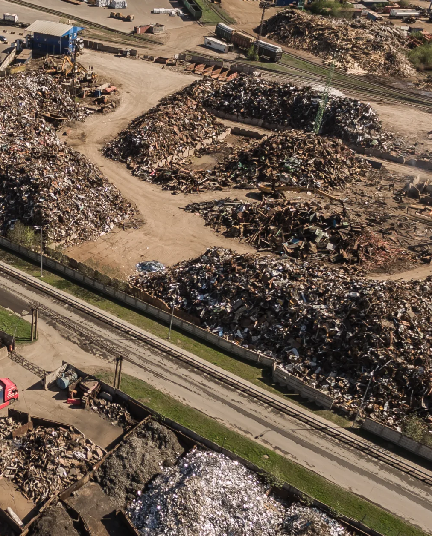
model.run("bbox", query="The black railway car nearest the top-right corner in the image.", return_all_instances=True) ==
[257,46,283,63]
